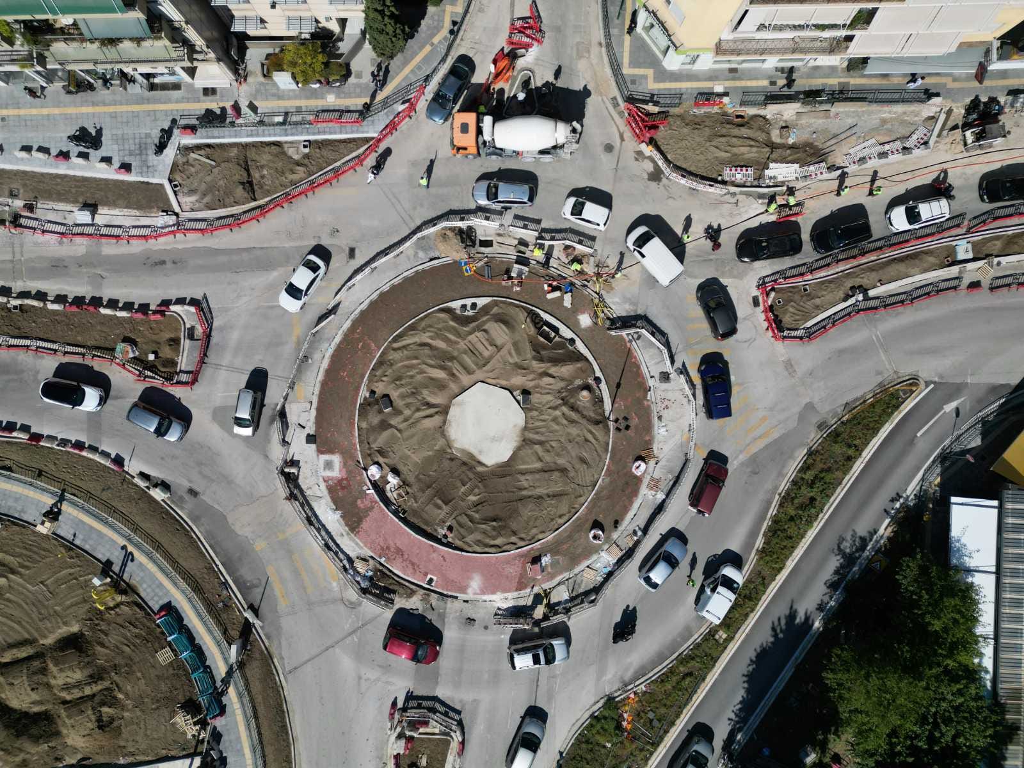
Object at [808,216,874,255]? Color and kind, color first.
black car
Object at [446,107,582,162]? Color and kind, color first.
white truck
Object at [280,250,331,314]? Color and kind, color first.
white car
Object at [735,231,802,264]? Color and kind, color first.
black car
